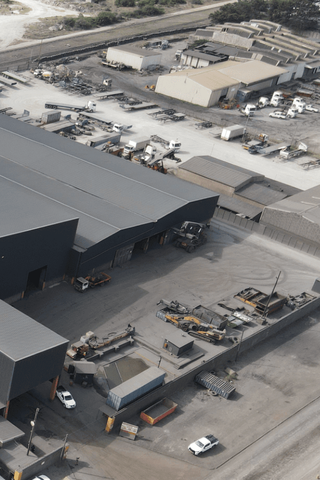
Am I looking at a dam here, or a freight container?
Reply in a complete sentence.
There is a freight container in the scene.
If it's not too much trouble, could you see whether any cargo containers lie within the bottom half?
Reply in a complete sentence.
Yes, within the bottom half there is a cargo container.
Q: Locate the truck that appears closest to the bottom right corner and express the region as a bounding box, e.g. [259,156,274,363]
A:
[188,432,218,458]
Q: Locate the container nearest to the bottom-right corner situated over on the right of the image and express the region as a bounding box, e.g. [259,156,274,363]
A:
[194,368,239,402]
